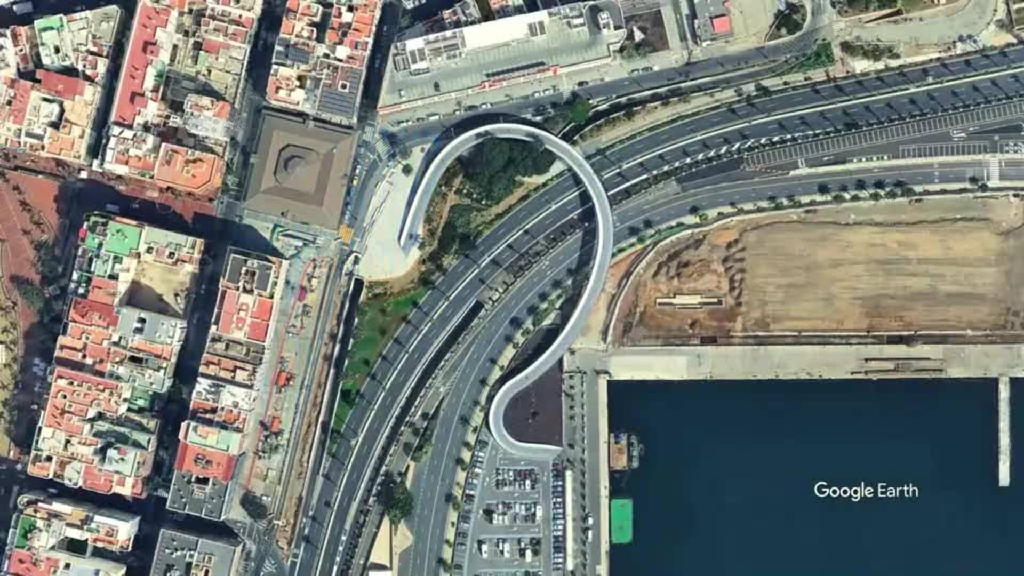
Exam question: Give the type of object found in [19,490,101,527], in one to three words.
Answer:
building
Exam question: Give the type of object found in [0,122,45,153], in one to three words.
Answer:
building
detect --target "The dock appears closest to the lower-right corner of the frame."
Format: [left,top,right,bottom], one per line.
[998,377,1010,485]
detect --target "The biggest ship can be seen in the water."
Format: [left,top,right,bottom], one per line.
[610,433,627,470]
